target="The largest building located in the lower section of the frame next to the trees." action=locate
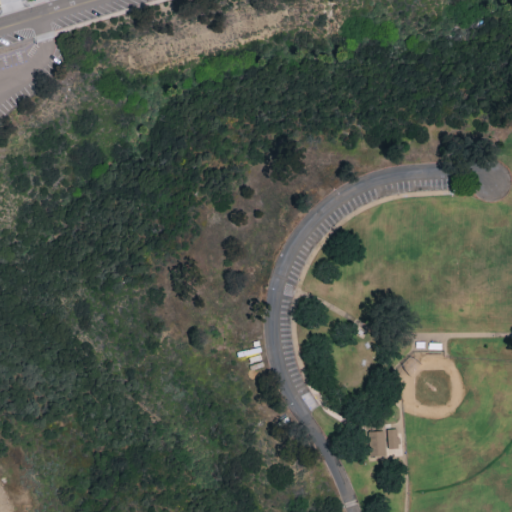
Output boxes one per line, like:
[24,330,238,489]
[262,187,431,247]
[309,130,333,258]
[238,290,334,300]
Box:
[370,431,386,458]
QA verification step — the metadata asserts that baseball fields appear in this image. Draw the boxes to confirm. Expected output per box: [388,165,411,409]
[400,352,465,419]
